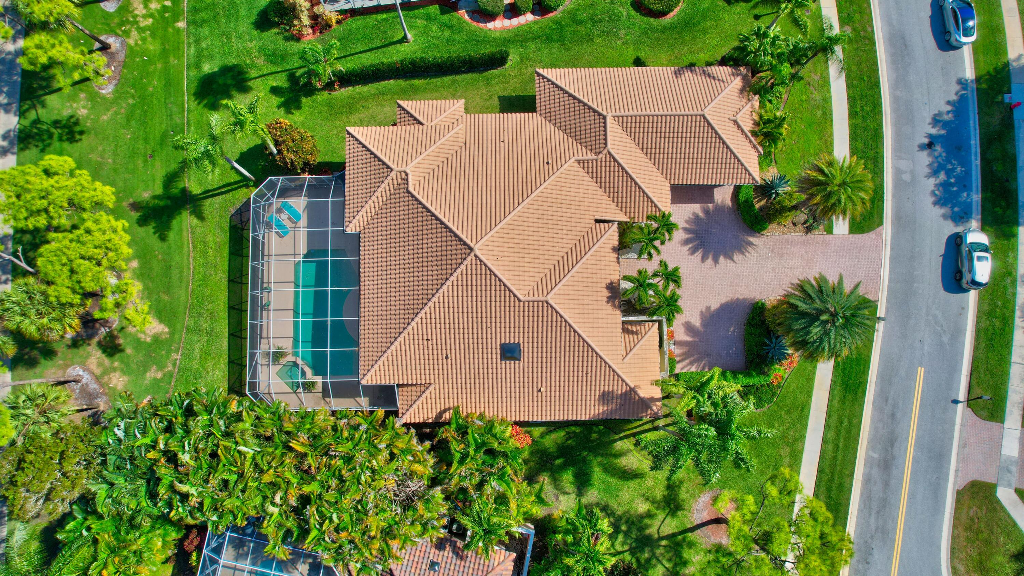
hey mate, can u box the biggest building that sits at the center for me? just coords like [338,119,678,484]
[343,66,764,424]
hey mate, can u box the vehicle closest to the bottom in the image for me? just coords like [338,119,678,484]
[956,229,992,290]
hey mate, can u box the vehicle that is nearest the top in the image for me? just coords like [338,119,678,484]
[940,0,978,44]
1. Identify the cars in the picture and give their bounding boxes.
[956,229,992,290]
[940,0,978,44]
